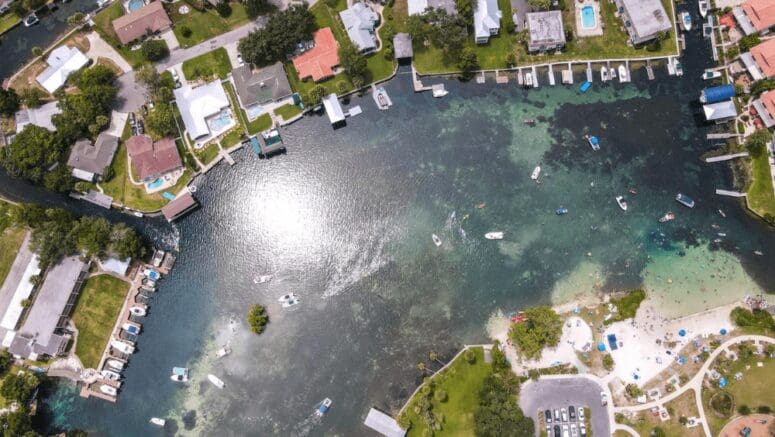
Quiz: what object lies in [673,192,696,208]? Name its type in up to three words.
boat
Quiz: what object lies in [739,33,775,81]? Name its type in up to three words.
house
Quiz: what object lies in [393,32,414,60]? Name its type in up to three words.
building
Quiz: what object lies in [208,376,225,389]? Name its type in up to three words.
boat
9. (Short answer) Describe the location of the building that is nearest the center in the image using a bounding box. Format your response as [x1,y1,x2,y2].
[322,93,345,125]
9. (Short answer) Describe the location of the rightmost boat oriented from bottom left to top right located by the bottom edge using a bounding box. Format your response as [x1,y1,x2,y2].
[315,401,328,416]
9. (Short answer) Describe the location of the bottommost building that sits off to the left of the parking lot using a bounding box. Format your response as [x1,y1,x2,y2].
[363,404,403,437]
